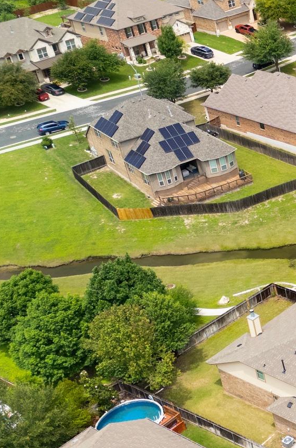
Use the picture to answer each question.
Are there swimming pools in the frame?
Yes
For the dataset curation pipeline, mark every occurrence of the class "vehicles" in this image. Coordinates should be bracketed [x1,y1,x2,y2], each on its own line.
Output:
[28,88,50,99]
[234,23,252,37]
[42,84,64,94]
[190,45,213,57]
[36,118,67,133]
